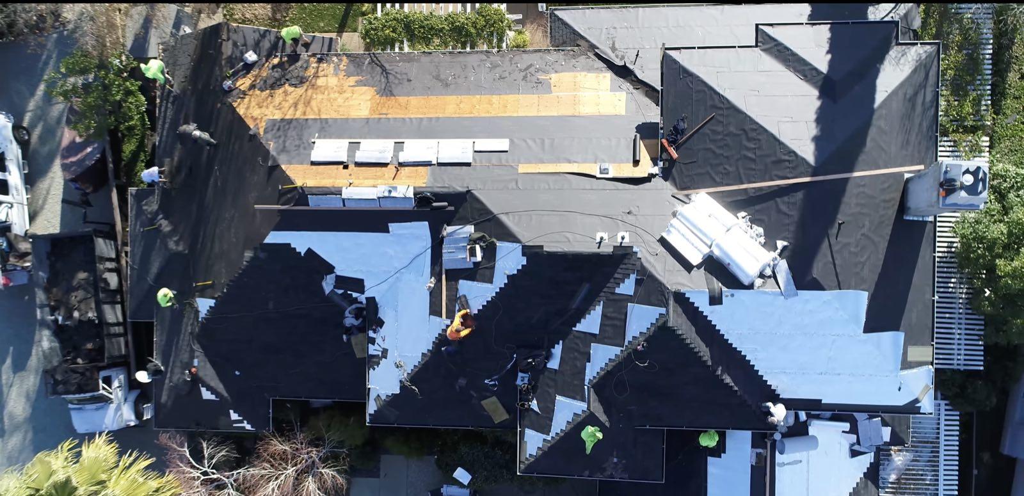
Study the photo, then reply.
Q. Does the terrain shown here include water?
No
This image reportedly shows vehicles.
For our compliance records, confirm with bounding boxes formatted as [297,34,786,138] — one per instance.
[0,112,31,285]
[22,219,149,435]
